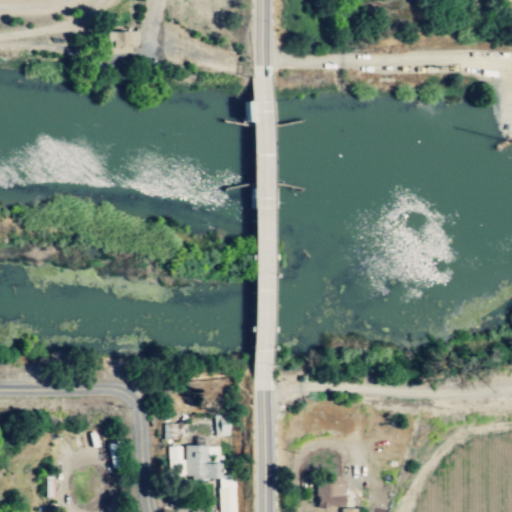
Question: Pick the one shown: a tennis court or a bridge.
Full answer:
It is a bridge that can be seen here.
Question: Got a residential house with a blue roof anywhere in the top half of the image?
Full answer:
No, no residential house with a blue roof can be made out in the top half of the image.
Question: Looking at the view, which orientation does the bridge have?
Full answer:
In this picture, the bridge is oriented from top to bottom.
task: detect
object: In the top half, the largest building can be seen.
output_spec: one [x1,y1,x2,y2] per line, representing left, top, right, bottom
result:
[110,30,140,50]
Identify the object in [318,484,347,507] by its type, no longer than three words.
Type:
house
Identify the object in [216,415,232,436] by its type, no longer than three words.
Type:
shed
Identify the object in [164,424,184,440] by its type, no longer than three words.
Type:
shed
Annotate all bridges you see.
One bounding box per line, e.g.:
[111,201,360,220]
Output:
[247,60,280,390]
